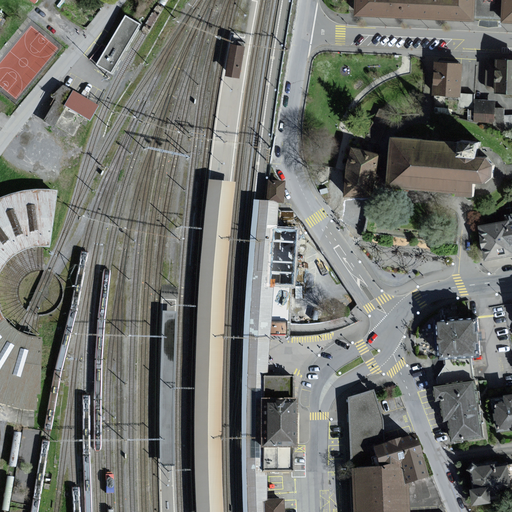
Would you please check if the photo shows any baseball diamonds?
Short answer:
No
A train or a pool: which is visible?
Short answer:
train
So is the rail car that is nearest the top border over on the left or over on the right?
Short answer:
left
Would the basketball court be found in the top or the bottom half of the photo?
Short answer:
top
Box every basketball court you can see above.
[0,26,58,98]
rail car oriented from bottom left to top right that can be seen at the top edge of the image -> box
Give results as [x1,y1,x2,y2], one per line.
[140,4,163,35]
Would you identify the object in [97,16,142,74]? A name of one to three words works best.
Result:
building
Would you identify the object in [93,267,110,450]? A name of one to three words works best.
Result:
train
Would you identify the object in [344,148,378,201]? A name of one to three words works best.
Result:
house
